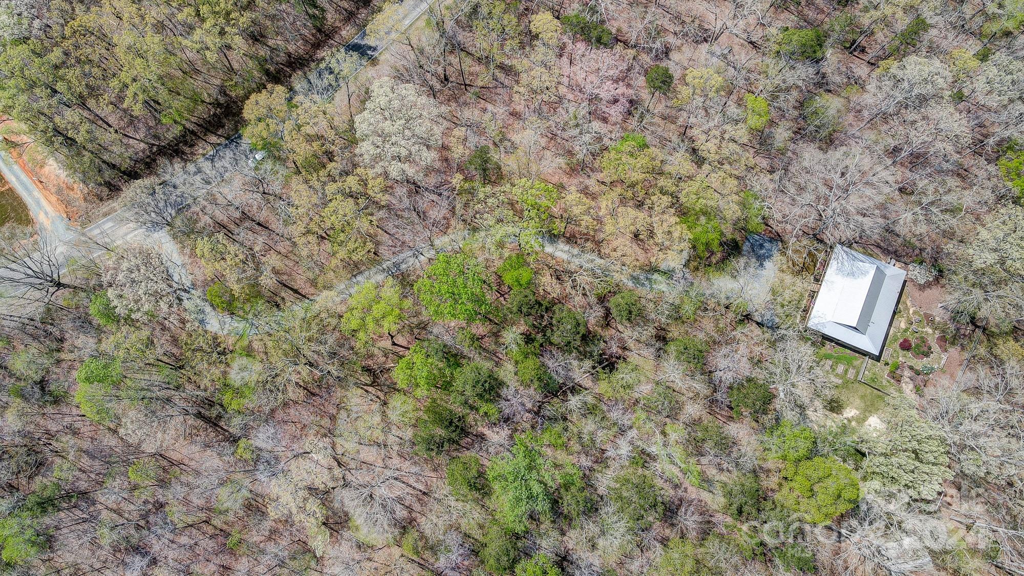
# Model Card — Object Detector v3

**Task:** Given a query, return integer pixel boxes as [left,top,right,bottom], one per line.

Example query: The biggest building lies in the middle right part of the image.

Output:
[798,245,907,355]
